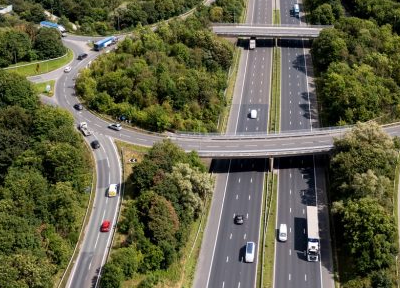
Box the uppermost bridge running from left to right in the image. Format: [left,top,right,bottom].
[217,24,332,47]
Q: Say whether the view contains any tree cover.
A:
Yes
